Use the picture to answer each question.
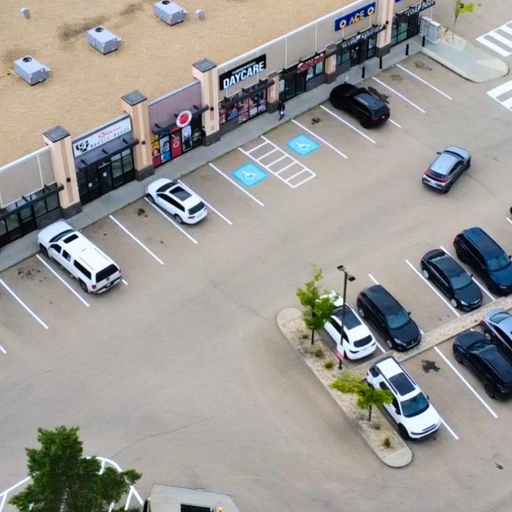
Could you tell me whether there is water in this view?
No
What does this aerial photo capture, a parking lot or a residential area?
parking lot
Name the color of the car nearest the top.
black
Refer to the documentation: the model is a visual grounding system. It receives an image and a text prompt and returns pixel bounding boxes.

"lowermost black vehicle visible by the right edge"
[452,334,512,401]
